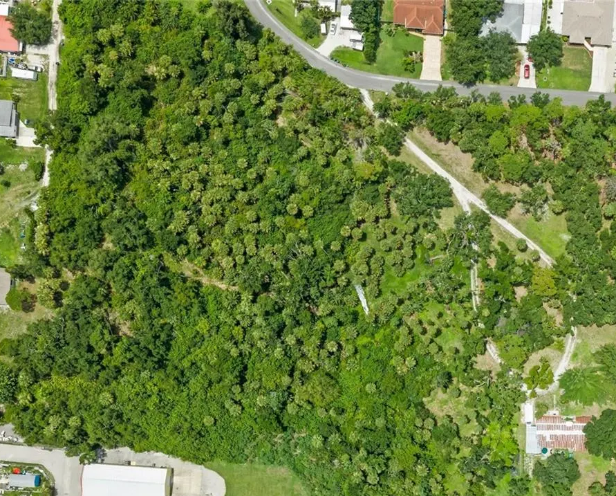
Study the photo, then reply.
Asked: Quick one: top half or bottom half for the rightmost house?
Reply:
top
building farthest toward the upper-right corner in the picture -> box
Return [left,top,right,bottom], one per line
[562,0,614,49]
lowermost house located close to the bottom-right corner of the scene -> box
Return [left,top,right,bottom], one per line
[526,415,591,453]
